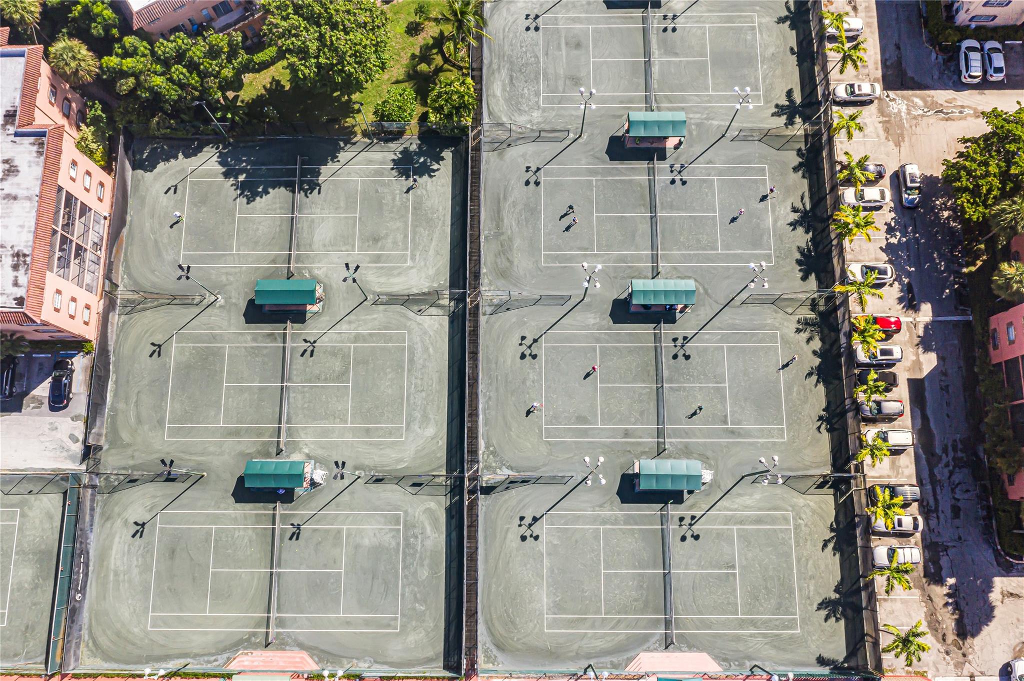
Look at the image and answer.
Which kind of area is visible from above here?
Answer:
sports ground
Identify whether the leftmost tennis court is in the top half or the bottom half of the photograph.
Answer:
bottom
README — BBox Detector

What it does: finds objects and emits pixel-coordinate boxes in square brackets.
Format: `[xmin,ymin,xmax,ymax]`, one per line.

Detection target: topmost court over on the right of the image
[483,0,823,136]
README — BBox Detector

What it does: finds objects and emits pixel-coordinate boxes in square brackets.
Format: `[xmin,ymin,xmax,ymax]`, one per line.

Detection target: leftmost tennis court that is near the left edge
[0,477,70,668]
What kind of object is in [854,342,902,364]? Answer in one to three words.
car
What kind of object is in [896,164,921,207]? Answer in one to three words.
car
